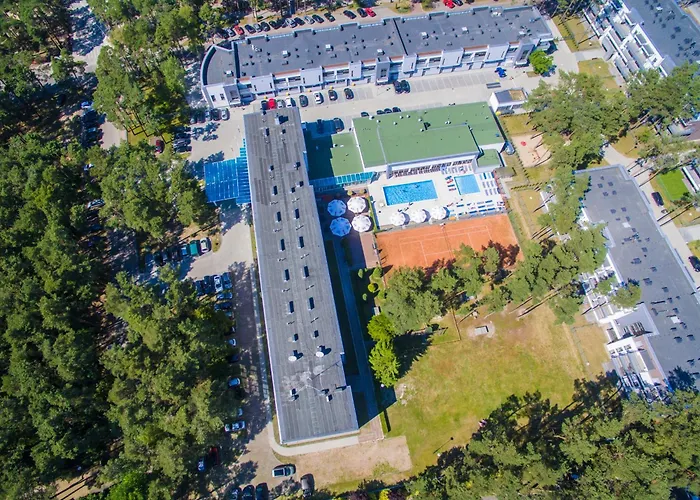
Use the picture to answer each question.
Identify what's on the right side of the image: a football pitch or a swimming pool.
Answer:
swimming pool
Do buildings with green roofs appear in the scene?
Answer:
Yes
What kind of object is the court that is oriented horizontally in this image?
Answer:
tennis court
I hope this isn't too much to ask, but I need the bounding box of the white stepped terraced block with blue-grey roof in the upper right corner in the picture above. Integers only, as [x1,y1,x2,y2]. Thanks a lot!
[570,0,700,84]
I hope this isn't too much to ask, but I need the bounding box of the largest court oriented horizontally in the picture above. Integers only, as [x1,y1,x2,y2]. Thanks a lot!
[375,213,530,295]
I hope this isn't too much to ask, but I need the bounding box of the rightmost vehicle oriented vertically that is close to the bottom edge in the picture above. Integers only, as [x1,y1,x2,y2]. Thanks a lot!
[300,469,315,499]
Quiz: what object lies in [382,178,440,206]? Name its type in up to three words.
swimming pool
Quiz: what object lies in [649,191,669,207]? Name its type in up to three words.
car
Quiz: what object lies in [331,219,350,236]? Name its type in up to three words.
umbrella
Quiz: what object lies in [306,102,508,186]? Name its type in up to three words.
building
